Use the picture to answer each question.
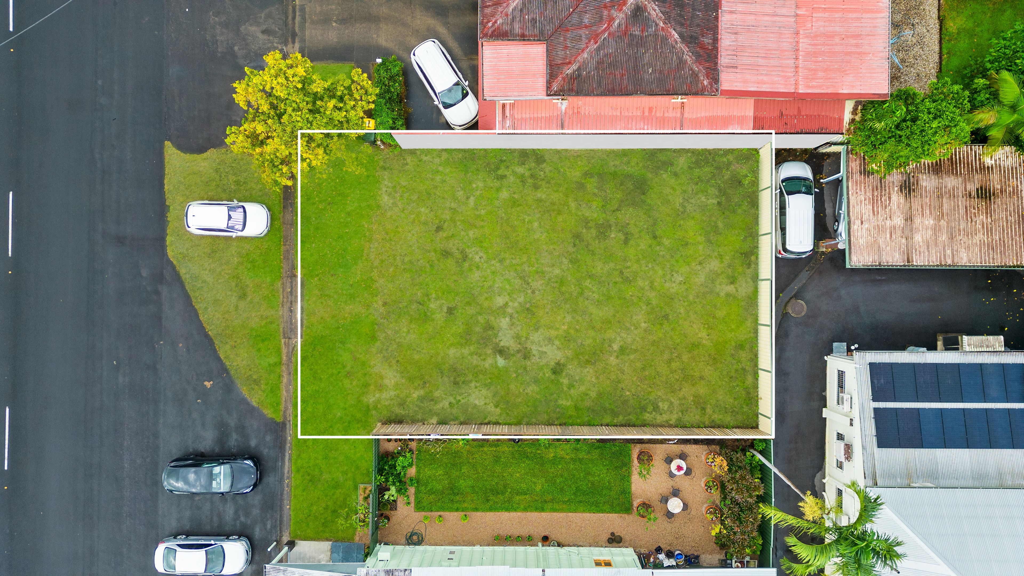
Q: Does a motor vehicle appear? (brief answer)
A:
Yes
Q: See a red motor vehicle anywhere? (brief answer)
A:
No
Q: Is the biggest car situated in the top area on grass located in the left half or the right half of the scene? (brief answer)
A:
left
